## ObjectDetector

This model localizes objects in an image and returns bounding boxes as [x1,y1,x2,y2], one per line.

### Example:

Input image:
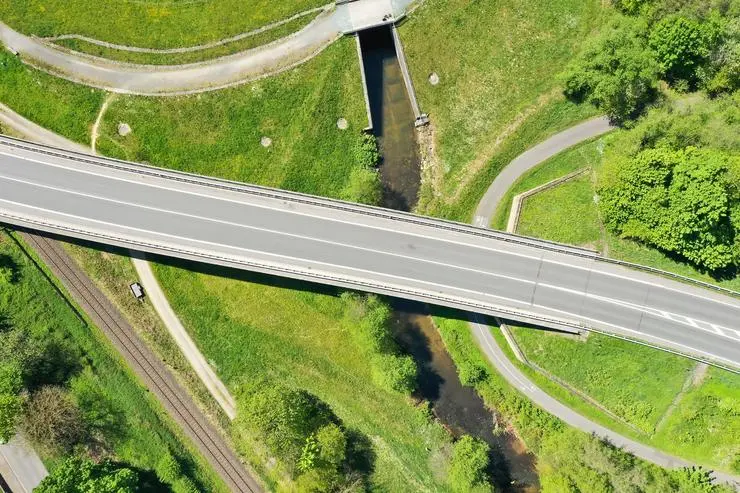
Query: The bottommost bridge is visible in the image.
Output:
[0,136,603,335]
